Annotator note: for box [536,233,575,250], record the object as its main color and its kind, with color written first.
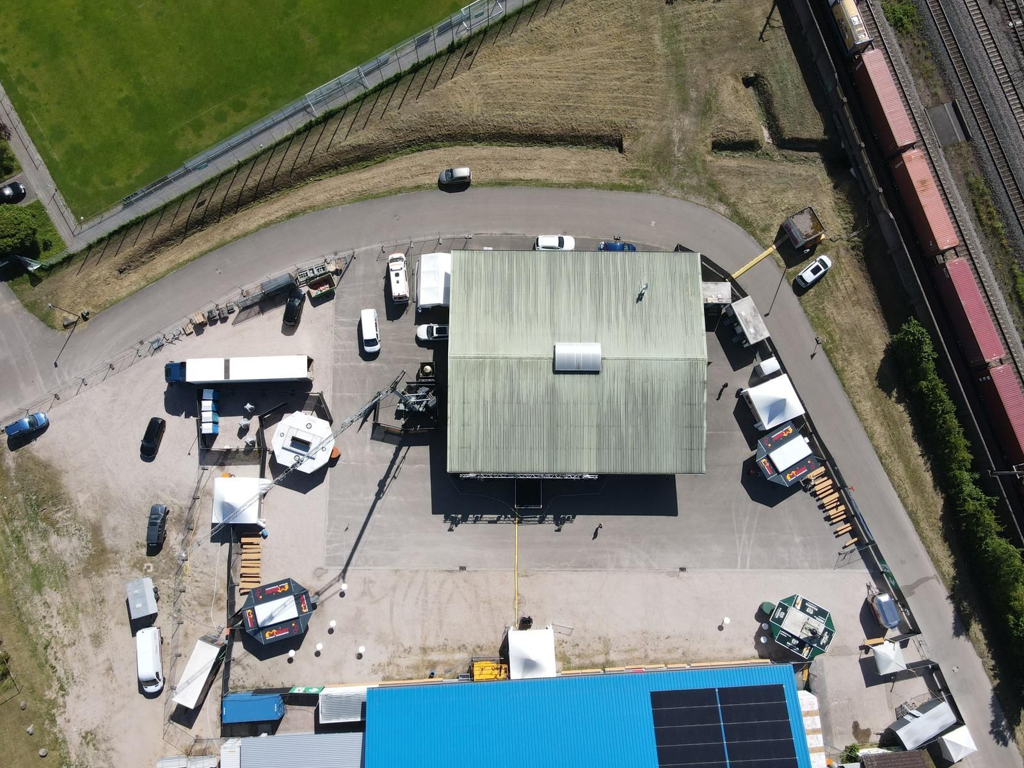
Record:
white car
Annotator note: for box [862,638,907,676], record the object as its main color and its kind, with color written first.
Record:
white tent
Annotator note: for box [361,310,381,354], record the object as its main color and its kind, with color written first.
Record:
white vehicle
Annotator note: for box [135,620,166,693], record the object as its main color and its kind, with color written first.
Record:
white van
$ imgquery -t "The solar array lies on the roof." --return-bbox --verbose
[651,685,798,768]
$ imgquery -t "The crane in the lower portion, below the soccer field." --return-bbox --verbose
[181,370,445,561]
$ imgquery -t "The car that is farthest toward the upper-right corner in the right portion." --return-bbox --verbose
[793,254,832,289]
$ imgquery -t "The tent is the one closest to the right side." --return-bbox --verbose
[931,720,978,763]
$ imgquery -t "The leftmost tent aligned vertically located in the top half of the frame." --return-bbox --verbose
[419,249,450,318]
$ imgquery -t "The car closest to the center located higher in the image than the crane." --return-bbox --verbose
[417,322,448,341]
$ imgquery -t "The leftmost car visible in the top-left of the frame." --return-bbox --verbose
[0,182,26,203]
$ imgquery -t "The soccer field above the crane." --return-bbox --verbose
[0,0,482,219]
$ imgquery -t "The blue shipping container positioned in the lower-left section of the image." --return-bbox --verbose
[223,688,286,721]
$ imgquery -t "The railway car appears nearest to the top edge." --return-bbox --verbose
[824,0,865,62]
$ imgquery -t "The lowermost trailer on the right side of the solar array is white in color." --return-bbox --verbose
[877,686,956,749]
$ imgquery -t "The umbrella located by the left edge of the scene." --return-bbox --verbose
[11,253,51,271]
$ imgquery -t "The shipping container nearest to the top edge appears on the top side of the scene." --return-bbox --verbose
[825,0,878,57]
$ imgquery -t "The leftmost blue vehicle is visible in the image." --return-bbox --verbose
[2,412,51,440]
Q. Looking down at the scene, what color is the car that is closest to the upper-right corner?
white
